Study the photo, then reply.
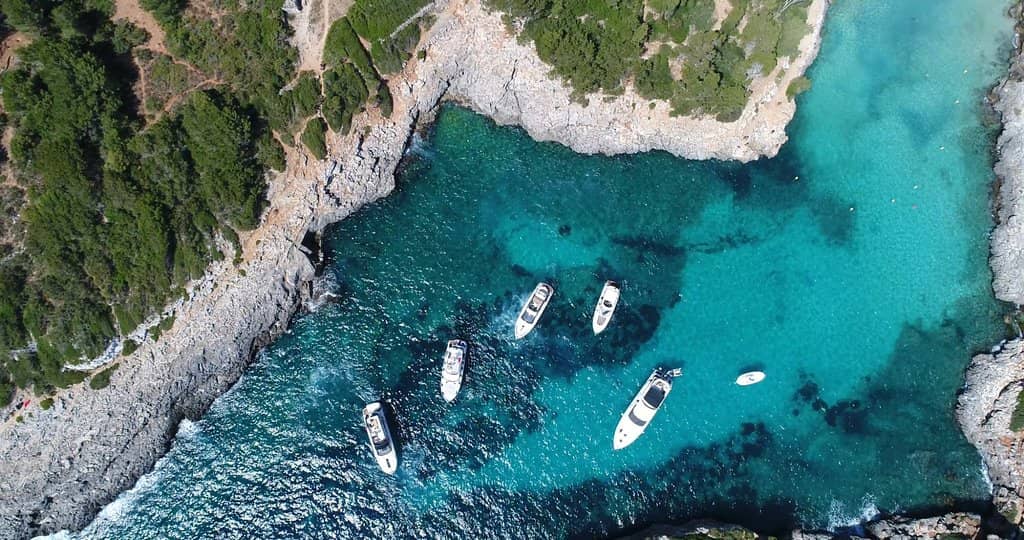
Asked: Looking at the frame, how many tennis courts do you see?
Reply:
0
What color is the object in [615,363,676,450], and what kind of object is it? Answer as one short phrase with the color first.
white boat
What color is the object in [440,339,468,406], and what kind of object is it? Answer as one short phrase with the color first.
white boat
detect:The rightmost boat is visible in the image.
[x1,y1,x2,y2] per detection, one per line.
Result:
[737,371,766,385]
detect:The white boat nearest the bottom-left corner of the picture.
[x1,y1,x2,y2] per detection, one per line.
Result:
[364,402,402,491]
